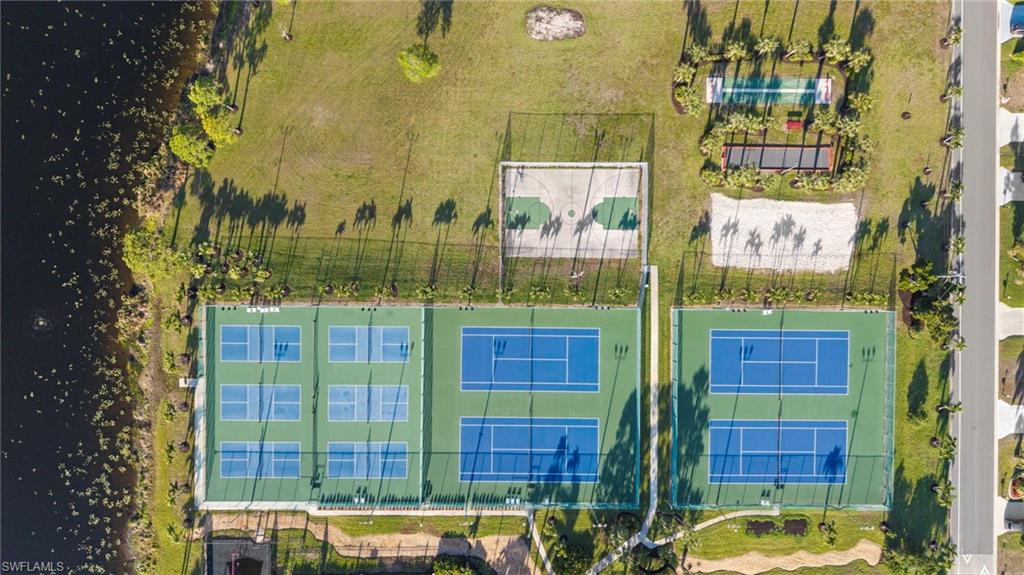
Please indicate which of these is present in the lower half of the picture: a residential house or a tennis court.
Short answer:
tennis court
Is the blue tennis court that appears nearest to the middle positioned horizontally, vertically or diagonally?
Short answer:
horizontally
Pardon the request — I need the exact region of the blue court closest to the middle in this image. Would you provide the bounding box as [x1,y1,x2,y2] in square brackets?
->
[460,326,600,392]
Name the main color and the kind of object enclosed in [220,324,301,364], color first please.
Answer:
blue sports court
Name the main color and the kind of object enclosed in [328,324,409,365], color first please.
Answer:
blue sports court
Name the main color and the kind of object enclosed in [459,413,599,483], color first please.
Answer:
blue tennis court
